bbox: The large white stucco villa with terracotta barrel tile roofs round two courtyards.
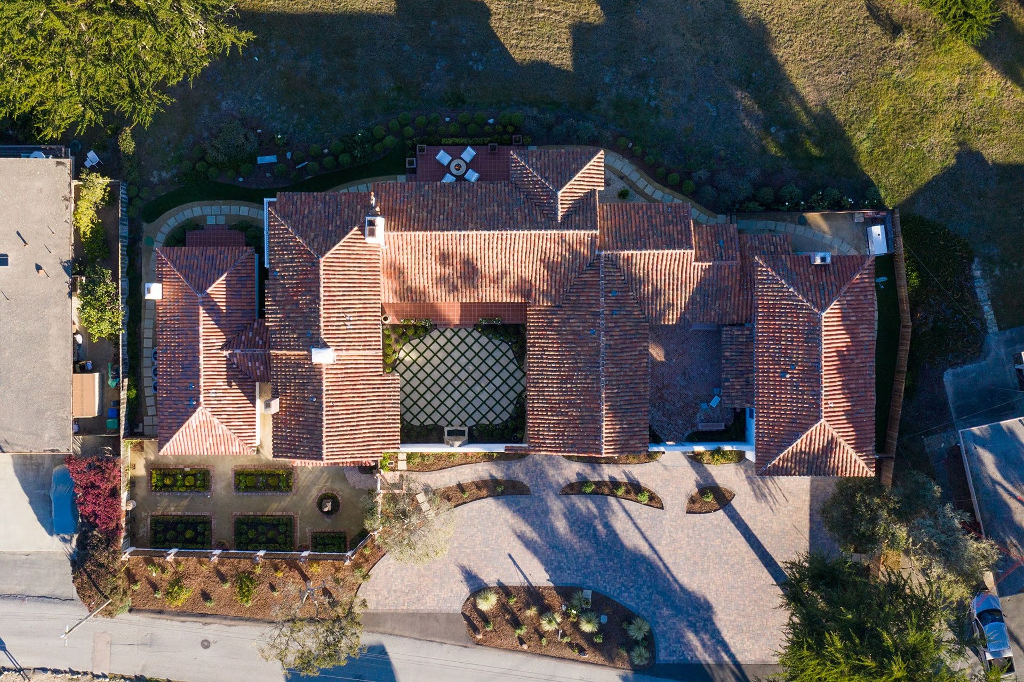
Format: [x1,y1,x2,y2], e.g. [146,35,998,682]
[145,148,877,477]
